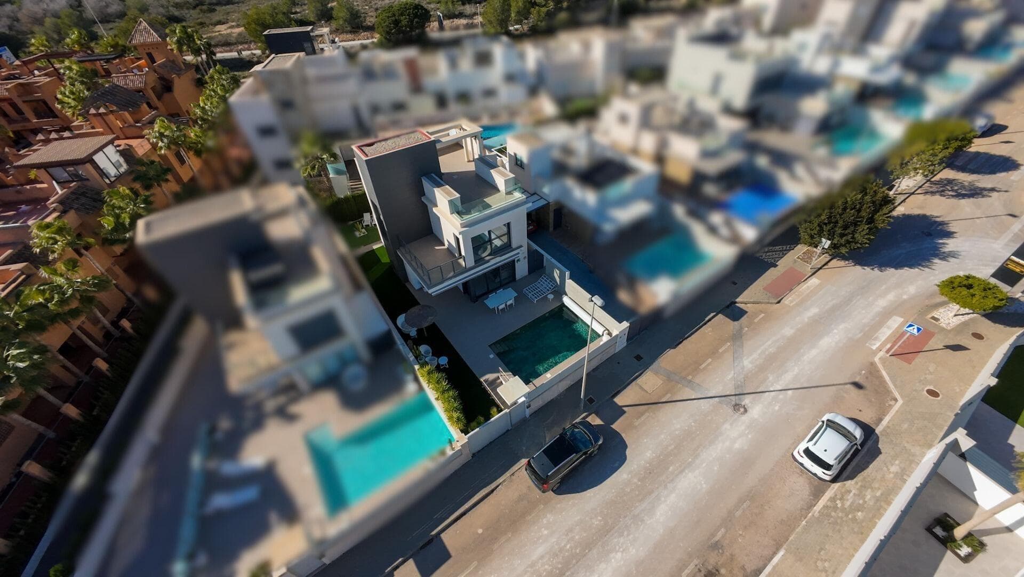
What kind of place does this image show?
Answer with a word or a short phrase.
residential area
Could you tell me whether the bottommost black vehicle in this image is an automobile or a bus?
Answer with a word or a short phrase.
automobile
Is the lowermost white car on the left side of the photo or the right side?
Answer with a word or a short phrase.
right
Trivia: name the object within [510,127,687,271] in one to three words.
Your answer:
house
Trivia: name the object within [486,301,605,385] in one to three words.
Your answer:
swimming pool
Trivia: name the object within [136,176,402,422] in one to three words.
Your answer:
house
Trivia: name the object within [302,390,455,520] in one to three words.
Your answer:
swimming pool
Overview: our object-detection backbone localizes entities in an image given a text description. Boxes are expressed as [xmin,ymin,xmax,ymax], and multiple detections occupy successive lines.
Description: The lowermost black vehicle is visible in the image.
[525,423,601,489]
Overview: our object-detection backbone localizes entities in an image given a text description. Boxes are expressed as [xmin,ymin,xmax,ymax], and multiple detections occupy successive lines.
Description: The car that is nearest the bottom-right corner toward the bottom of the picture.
[799,416,865,482]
